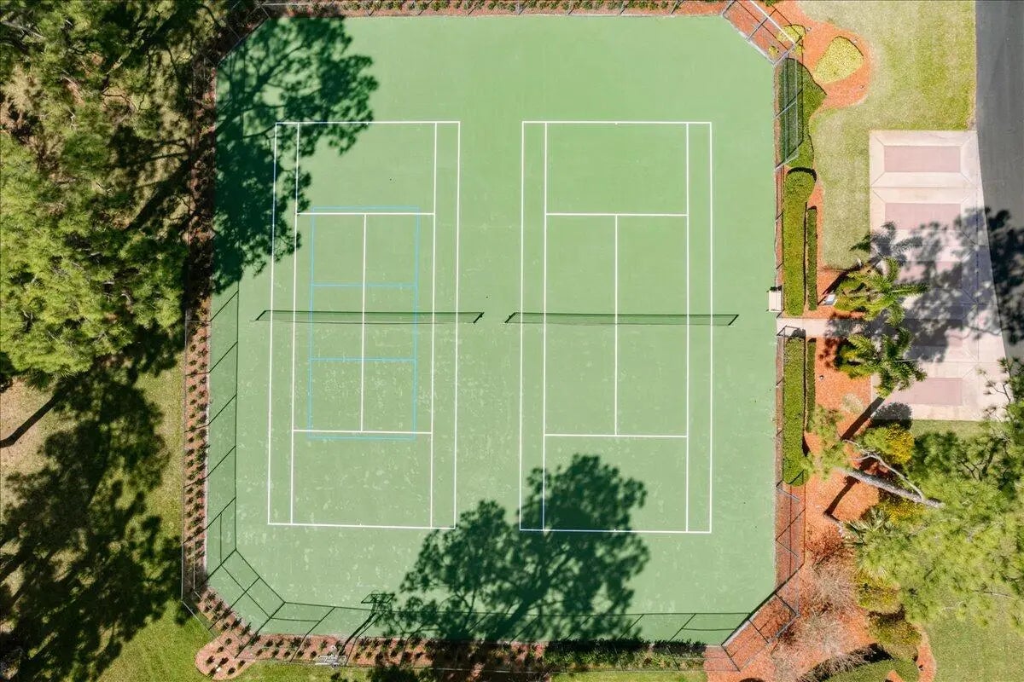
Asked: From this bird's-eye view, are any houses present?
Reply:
No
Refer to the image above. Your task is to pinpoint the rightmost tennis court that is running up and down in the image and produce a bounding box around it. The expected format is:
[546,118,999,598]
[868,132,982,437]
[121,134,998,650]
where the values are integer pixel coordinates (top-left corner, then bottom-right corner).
[487,14,776,646]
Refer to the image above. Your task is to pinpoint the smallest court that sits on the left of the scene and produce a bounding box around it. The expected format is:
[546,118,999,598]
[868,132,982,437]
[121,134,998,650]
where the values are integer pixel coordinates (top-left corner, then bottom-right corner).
[309,206,419,440]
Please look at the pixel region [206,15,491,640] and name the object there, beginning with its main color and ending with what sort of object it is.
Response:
green tennis court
